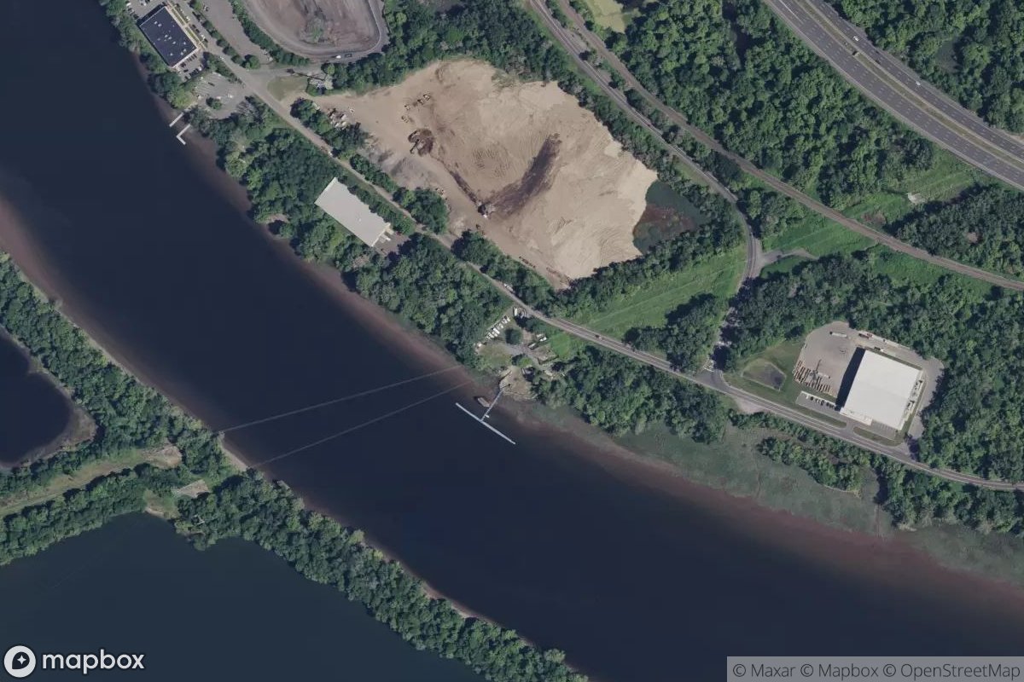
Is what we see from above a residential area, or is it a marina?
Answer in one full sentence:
This image shows a marina.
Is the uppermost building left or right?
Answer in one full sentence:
The uppermost building sits on the left side.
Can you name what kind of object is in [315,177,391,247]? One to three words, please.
building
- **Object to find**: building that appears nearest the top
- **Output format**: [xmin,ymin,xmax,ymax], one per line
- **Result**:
[140,7,198,66]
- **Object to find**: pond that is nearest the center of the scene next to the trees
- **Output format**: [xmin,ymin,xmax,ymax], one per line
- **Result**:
[633,176,714,255]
